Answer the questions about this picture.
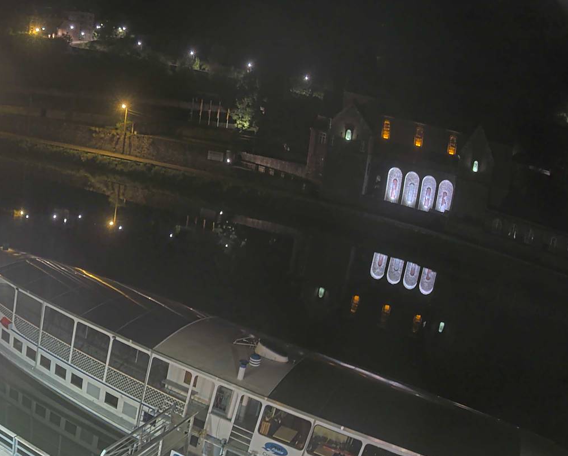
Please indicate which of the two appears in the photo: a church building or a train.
church building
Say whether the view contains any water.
Yes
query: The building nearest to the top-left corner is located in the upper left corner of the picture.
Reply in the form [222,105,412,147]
[25,16,60,44]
